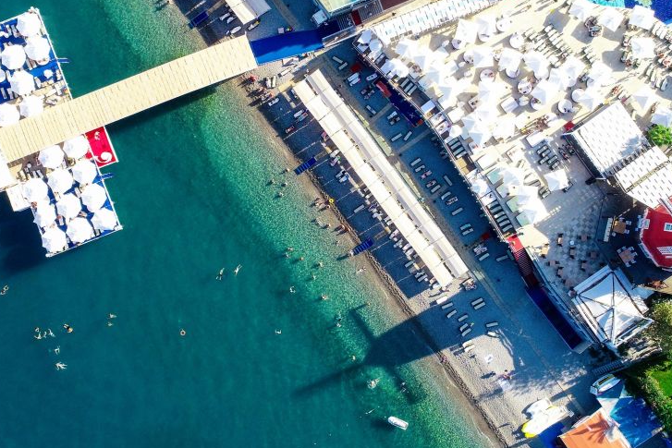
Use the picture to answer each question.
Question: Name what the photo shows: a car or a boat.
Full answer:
Of the two, only a boat appears.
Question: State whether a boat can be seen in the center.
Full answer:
No, looking in the center, there is no boat.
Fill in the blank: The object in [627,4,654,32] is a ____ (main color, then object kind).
white umbrella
